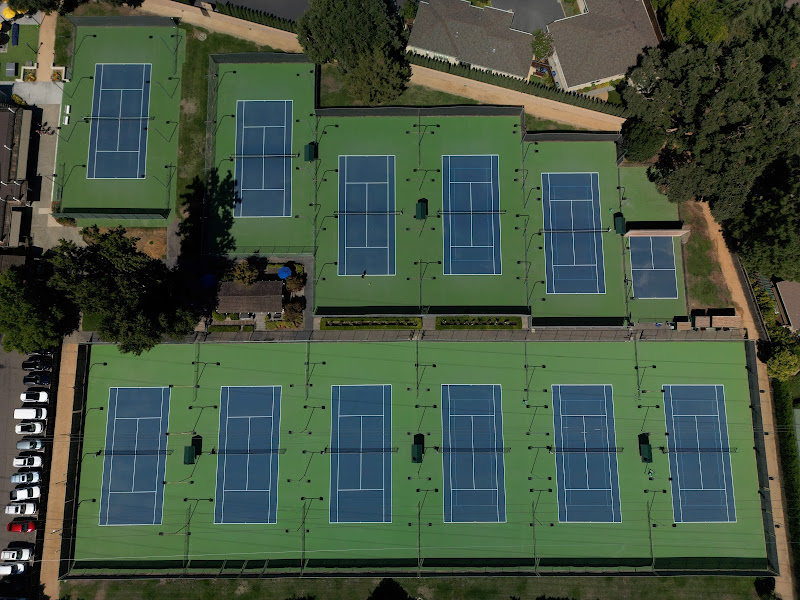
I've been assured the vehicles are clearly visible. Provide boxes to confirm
[1,546,33,562]
[21,390,50,403]
[27,347,54,359]
[13,455,43,469]
[23,359,52,372]
[9,485,41,500]
[9,519,37,533]
[11,406,48,420]
[6,501,38,515]
[17,438,45,452]
[24,373,52,387]
[16,422,45,435]
[0,561,27,577]
[11,470,41,484]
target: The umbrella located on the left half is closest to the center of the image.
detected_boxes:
[278,266,292,279]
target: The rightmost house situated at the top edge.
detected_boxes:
[545,0,659,94]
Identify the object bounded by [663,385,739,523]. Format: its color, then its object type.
blue tennis court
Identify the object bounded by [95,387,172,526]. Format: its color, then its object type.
blue tennis court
